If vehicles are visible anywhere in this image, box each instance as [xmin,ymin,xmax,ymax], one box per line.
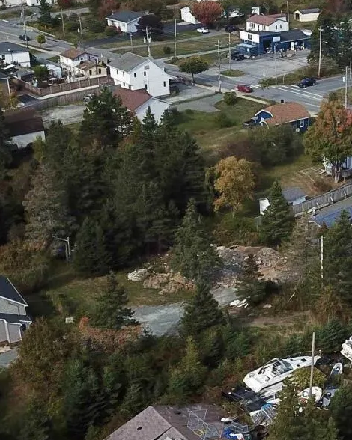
[235,84,251,92]
[196,26,210,32]
[228,50,247,59]
[298,78,316,88]
[19,35,30,41]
